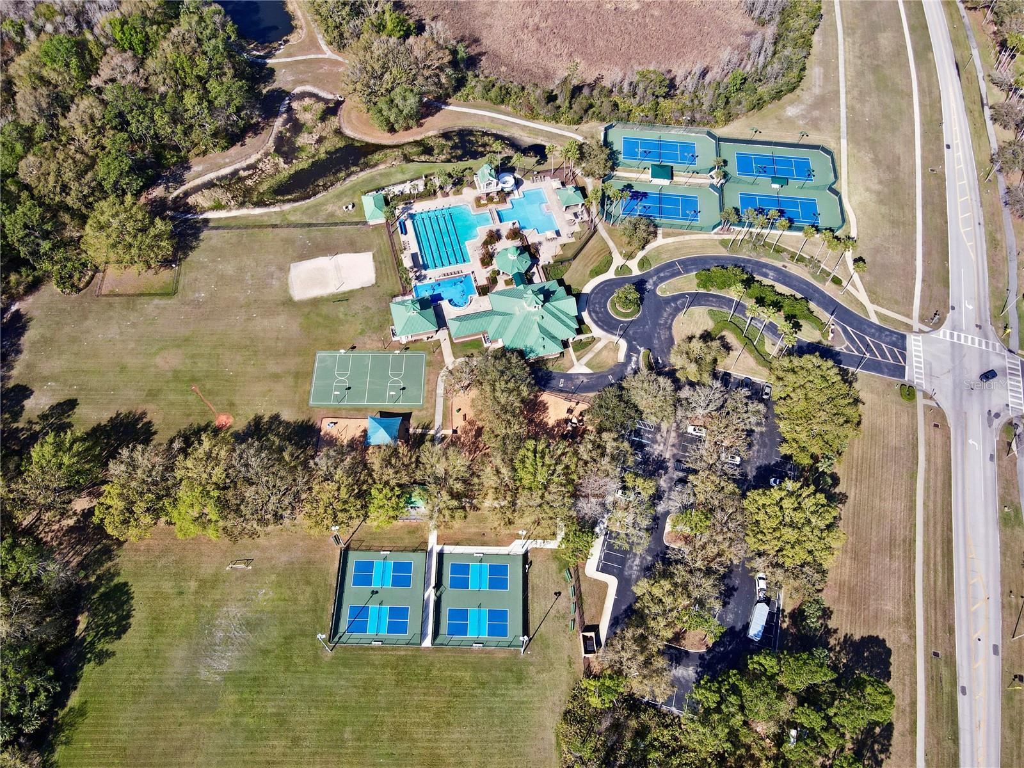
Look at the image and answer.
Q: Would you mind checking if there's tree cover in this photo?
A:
Yes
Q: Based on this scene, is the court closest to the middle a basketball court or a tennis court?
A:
basketball court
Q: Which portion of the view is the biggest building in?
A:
center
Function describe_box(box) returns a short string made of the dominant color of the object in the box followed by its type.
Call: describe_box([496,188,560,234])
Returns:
blue swimming pool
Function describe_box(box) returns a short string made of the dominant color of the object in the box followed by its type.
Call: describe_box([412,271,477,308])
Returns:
blue swimming pool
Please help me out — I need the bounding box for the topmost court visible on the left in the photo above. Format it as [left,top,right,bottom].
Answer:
[287,251,376,302]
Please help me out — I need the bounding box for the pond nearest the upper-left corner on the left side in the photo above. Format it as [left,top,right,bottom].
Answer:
[225,0,292,42]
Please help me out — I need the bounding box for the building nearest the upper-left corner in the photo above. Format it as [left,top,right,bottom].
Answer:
[363,194,386,227]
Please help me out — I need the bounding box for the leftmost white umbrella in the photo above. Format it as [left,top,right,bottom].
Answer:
[400,254,417,266]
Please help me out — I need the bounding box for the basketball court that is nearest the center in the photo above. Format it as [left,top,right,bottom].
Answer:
[365,351,426,408]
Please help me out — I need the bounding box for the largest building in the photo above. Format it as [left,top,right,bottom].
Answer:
[448,280,580,361]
